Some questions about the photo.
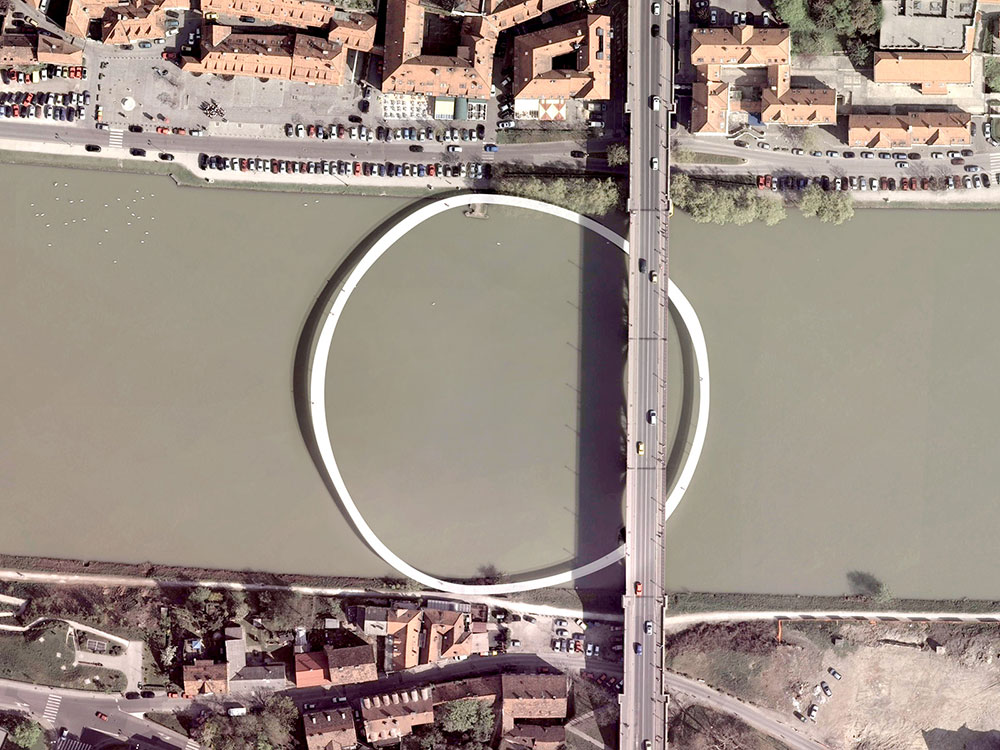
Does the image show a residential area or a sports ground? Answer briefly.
residential area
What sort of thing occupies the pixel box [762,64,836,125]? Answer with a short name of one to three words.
house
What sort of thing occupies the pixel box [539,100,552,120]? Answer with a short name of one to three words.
umbrella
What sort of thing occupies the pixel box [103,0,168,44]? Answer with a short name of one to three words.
house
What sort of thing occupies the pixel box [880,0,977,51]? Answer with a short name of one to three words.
building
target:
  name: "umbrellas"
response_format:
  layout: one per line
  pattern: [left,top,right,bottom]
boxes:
[539,100,552,120]
[553,100,565,120]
